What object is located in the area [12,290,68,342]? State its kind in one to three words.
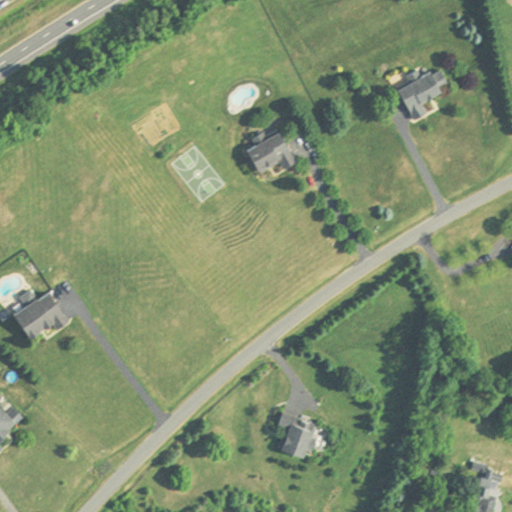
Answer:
house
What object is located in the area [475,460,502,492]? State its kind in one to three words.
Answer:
house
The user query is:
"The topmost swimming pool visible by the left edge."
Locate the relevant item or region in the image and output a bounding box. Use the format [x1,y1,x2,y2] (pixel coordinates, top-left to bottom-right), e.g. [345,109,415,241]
[0,273,32,308]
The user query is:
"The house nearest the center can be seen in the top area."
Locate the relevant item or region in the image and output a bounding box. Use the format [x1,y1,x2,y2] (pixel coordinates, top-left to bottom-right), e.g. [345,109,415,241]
[247,130,294,174]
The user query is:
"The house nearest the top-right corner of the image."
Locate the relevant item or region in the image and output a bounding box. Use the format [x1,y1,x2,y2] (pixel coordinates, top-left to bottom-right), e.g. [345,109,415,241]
[397,70,446,116]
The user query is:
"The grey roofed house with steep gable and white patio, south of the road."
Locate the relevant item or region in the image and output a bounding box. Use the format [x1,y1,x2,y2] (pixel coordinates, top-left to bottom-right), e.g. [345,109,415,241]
[282,425,320,462]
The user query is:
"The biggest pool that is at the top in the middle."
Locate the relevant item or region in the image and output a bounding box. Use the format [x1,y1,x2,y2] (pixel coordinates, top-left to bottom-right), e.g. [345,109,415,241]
[228,83,260,114]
